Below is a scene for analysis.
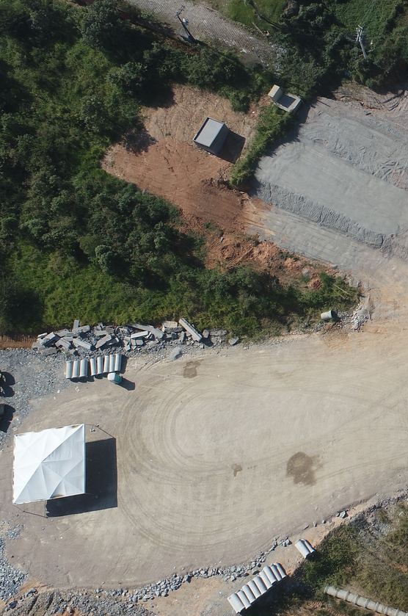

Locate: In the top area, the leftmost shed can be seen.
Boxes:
[194,117,233,154]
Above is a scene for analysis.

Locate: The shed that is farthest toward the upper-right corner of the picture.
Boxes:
[268,85,300,108]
